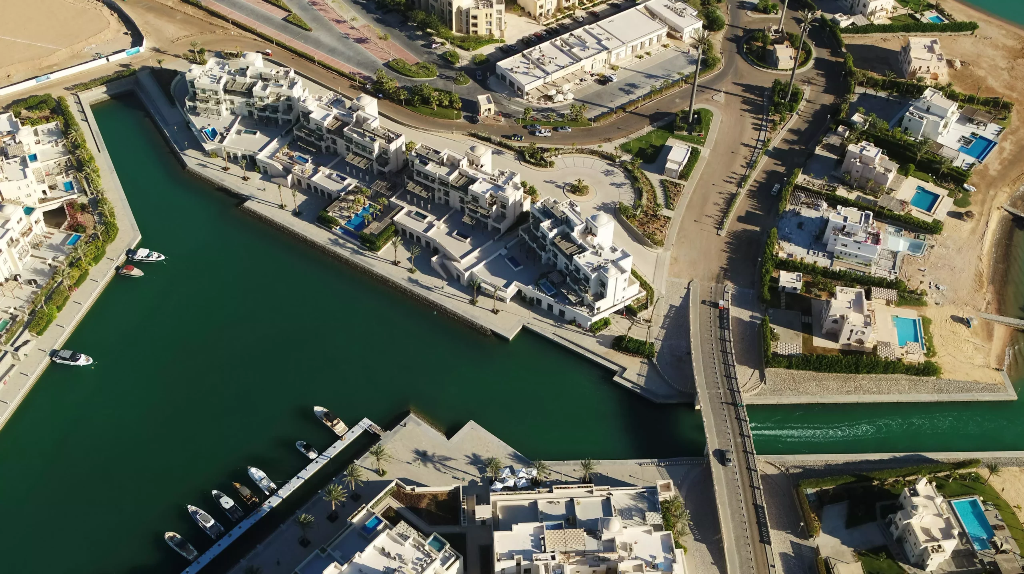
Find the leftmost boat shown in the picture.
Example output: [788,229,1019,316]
[53,351,94,365]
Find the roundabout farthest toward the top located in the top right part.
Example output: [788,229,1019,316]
[740,32,817,74]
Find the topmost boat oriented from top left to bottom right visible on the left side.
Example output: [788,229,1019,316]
[314,404,355,436]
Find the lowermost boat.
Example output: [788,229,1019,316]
[165,531,207,565]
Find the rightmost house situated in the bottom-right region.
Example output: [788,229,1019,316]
[888,478,958,570]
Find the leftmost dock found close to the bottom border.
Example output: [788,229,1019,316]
[183,418,374,574]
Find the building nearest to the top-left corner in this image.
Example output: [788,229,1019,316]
[0,112,87,216]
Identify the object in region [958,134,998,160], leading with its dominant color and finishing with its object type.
blue swimming pool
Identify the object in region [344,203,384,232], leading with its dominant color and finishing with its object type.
blue swimming pool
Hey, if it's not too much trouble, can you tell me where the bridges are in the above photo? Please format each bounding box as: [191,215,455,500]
[689,285,778,574]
